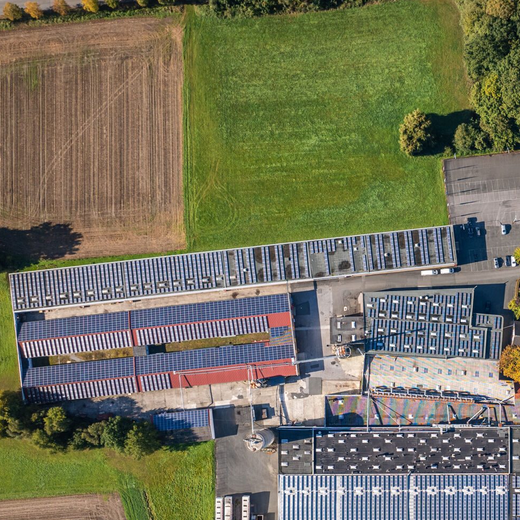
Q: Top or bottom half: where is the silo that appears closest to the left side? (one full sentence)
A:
You can find the silo that appears closest to the left side in the bottom half.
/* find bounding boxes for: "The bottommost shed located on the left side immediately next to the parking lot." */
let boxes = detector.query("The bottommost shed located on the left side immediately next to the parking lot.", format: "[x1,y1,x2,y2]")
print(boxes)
[24,341,299,403]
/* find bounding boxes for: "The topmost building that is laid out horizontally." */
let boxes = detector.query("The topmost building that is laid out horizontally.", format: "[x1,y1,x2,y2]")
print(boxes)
[9,224,458,313]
